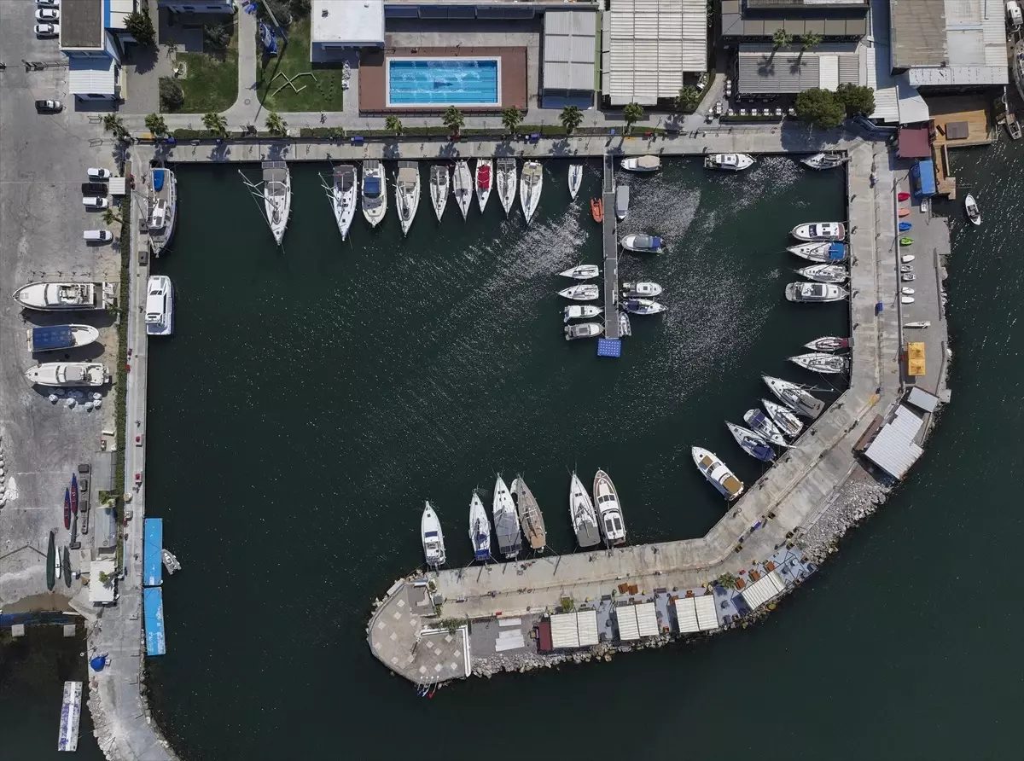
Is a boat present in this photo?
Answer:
Yes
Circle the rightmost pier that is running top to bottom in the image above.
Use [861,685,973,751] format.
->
[932,146,956,200]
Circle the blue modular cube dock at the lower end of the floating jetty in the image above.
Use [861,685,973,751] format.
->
[598,339,620,357]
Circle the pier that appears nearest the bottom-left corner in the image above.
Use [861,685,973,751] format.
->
[58,681,84,751]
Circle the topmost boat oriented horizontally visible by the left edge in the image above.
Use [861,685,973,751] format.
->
[9,282,118,311]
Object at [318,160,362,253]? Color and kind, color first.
white boat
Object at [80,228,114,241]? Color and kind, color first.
white vehicle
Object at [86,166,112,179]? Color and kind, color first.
white vehicle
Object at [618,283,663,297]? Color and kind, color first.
white boat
